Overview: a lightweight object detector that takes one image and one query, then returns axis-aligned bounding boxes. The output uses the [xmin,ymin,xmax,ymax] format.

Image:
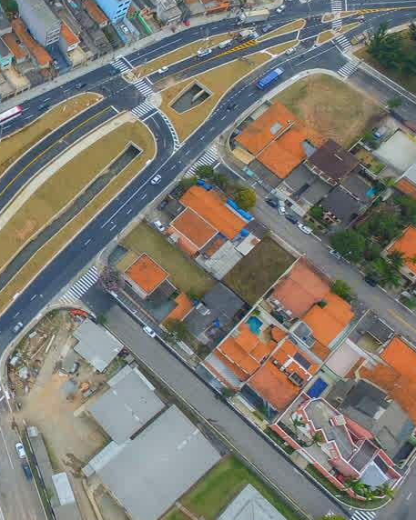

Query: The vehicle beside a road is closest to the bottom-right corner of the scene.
[362,276,377,289]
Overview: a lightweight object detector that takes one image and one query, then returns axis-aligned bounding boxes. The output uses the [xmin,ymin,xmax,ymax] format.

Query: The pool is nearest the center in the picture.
[244,314,263,332]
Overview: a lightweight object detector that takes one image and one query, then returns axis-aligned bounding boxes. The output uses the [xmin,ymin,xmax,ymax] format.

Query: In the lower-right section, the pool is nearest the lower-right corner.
[304,376,331,400]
